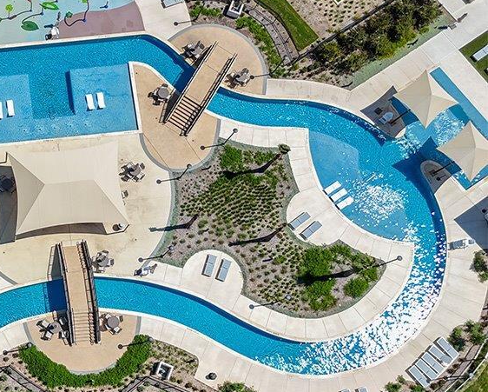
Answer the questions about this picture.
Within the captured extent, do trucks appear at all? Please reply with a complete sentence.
No, there is no truck in the image.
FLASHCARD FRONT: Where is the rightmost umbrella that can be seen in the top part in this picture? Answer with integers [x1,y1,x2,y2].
[429,121,488,178]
